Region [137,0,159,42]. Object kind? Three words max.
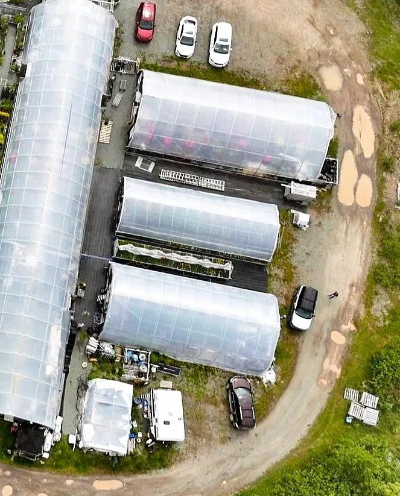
car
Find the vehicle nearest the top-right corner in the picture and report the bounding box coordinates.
[210,18,235,66]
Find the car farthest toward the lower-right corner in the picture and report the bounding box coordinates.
[229,375,260,430]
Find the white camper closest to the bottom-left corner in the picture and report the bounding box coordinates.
[147,391,184,452]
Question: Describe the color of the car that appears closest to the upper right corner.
white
